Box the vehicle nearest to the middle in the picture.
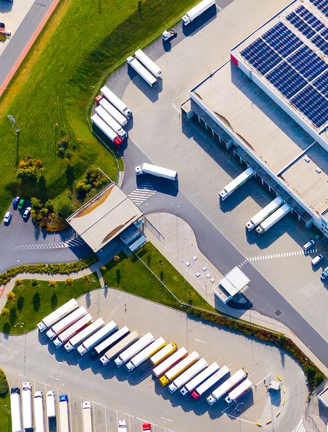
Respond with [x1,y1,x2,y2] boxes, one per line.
[137,168,178,183]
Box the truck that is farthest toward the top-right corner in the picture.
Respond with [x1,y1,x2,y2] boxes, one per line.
[182,0,215,27]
